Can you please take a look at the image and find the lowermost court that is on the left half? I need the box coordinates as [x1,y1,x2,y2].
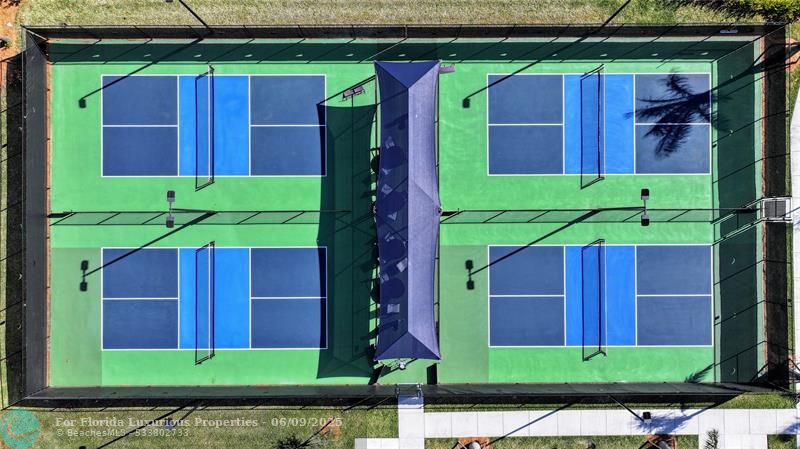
[102,247,327,350]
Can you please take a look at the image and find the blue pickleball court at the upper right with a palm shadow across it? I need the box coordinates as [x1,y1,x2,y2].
[488,73,712,176]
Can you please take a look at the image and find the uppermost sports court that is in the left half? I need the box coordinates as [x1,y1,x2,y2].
[102,74,326,177]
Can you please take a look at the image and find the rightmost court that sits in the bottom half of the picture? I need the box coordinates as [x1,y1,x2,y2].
[488,244,713,347]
